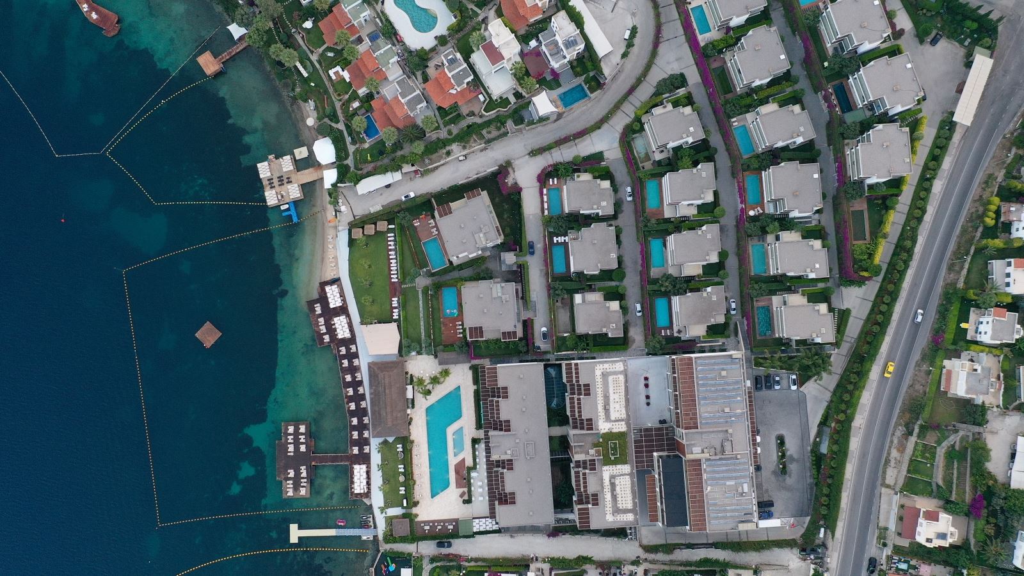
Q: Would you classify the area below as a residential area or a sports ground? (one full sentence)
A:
The area seen from above is a residential area.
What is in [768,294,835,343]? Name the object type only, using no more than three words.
house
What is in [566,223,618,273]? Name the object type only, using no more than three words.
house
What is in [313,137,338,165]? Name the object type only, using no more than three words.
tent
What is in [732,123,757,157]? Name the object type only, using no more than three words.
swimming pool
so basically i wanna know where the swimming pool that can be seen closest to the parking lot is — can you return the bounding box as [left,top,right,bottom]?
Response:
[755,305,773,338]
